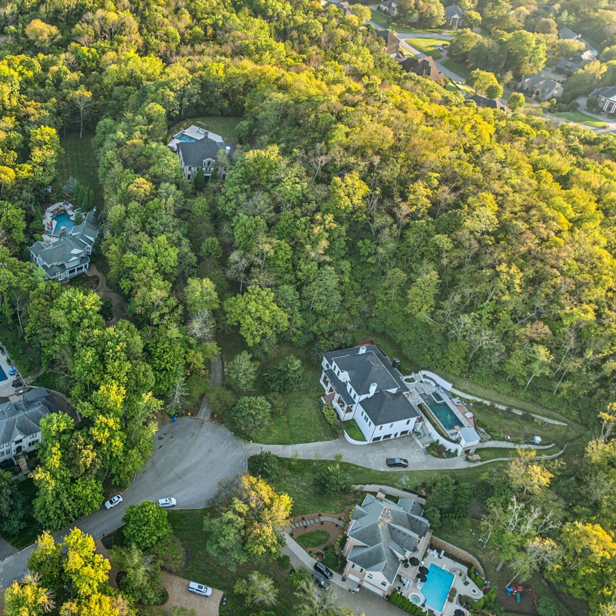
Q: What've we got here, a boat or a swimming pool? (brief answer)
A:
swimming pool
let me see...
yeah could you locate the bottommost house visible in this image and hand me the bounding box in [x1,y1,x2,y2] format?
[340,486,430,606]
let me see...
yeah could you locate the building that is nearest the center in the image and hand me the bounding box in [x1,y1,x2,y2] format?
[321,344,422,445]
